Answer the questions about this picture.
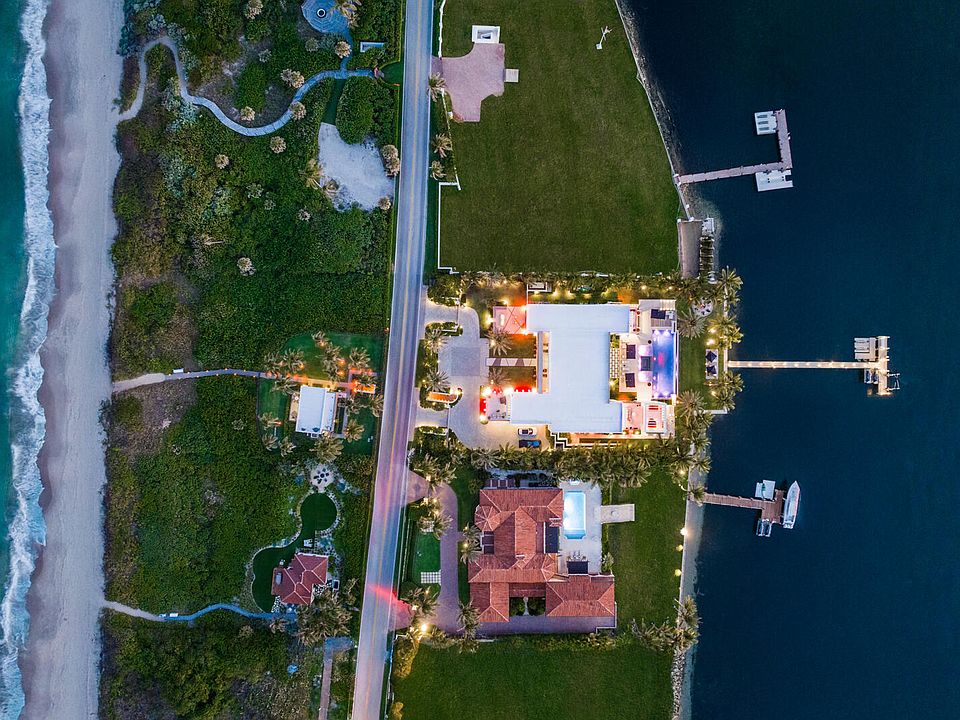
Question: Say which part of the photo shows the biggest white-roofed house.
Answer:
center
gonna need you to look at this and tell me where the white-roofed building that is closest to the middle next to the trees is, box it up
[483,277,631,448]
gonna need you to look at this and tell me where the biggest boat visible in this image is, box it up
[782,481,798,530]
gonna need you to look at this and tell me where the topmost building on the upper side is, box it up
[472,25,500,48]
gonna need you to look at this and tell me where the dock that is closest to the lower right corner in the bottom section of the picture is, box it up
[701,488,785,524]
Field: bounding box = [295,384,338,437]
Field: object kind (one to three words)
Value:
house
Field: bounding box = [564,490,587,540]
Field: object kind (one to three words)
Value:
swimming pool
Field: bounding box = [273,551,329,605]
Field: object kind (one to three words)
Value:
building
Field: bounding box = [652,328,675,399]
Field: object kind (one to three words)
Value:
swimming pool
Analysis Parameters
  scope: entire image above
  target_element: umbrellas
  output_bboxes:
[705,351,717,363]
[707,366,716,375]
[651,309,666,319]
[625,373,635,387]
[626,344,636,359]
